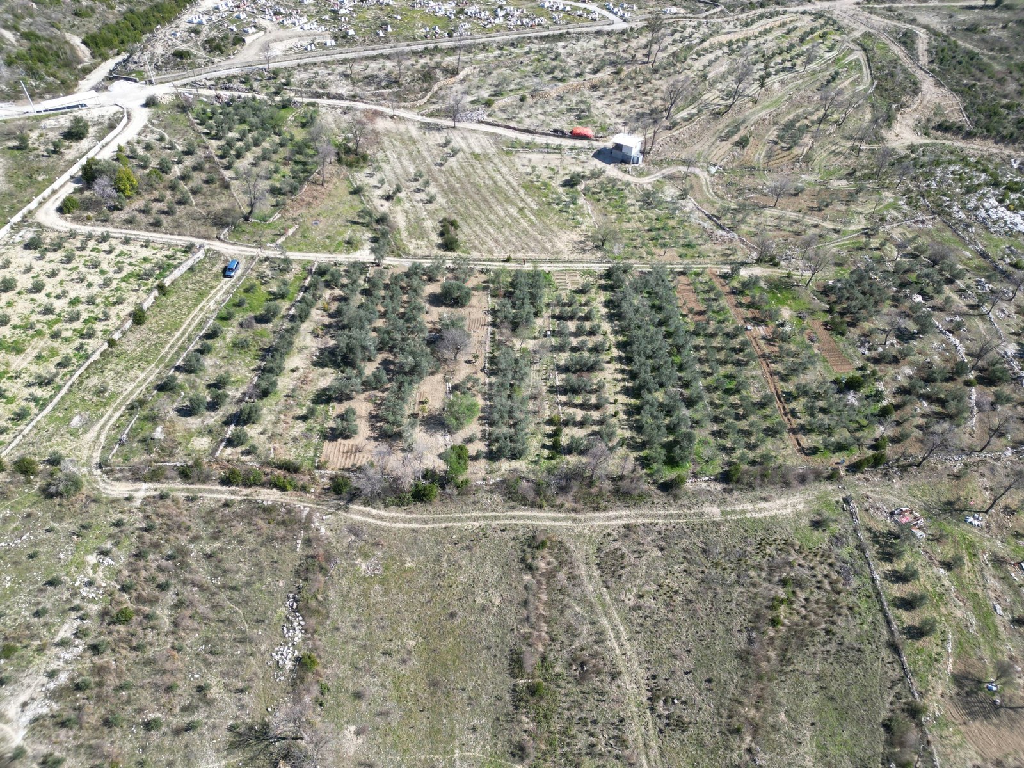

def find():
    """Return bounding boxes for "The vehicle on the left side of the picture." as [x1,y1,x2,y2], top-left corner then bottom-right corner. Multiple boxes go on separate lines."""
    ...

[225,259,239,277]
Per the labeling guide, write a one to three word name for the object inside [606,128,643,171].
shed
